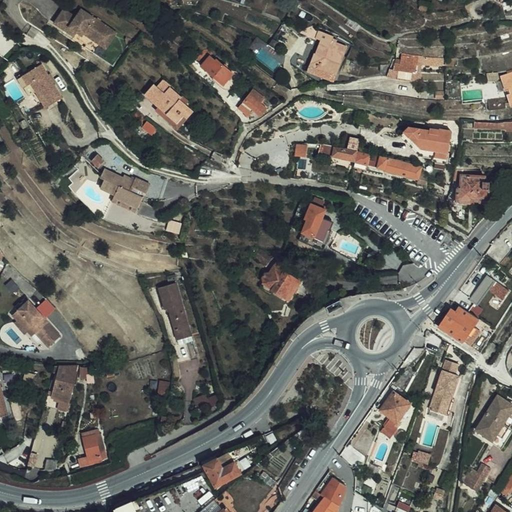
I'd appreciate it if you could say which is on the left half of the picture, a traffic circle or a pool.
pool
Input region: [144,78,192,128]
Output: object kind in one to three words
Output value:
house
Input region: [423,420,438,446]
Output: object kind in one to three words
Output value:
swimming pool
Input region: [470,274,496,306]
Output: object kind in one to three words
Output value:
shed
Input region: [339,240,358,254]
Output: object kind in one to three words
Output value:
swimming pool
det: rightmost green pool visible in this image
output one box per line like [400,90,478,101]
[462,89,483,101]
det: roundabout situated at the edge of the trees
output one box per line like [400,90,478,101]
[340,299,410,369]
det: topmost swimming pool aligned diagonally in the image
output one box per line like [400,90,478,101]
[255,48,281,70]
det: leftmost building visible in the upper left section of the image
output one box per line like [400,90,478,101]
[16,63,61,108]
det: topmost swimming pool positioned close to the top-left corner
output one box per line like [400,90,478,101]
[6,80,24,102]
